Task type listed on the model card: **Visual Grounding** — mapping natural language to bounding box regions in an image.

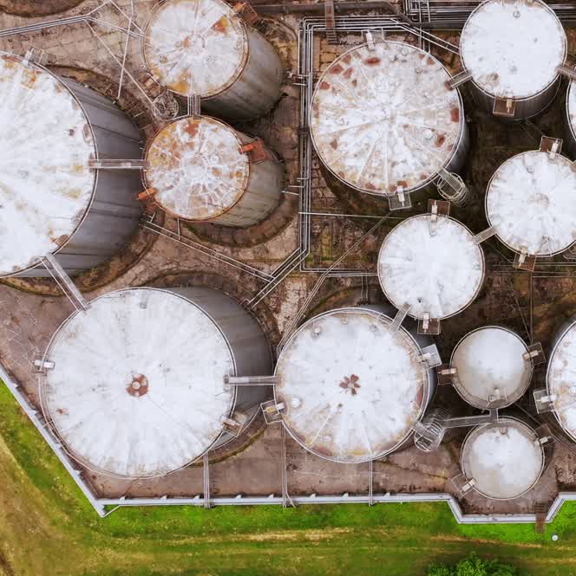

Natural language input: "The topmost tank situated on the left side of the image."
[131,0,285,120]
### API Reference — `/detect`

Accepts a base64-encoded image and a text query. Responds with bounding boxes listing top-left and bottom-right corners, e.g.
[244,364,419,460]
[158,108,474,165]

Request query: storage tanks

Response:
[131,0,285,120]
[458,0,567,122]
[447,401,560,506]
[15,284,273,483]
[0,36,146,277]
[376,194,488,340]
[253,303,443,466]
[529,310,576,445]
[125,113,286,227]
[431,319,550,411]
[485,130,576,275]
[306,18,471,213]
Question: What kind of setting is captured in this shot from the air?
industrial area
